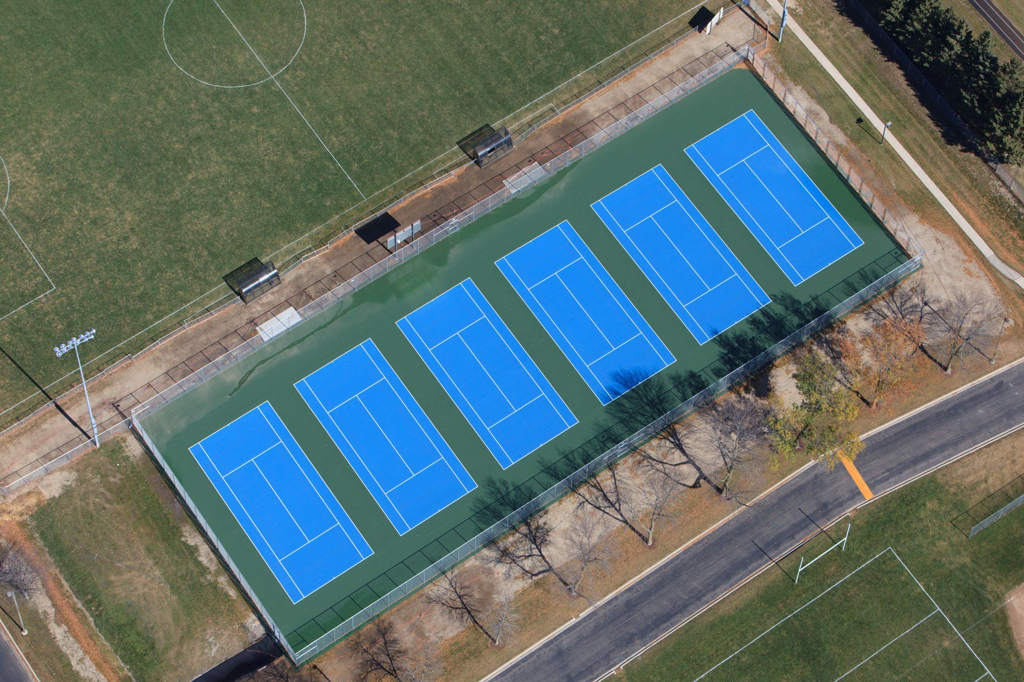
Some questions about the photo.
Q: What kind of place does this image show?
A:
sports ground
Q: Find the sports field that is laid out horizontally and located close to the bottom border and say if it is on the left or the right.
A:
right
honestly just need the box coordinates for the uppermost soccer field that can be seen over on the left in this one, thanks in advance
[0,0,706,415]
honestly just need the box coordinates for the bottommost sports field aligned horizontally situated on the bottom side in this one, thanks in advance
[694,547,997,682]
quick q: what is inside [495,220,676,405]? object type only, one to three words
tennis court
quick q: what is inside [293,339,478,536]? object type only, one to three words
tennis court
